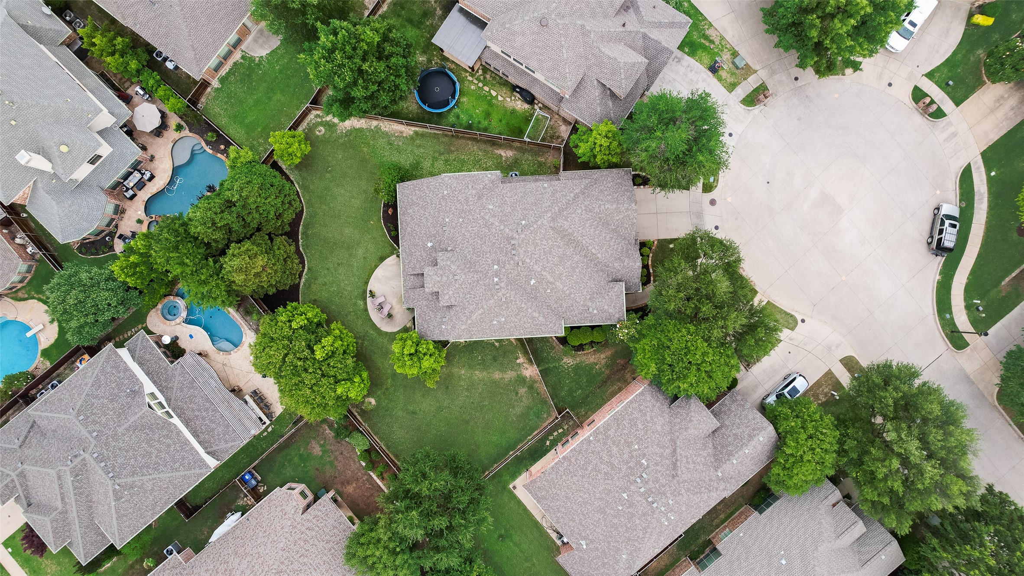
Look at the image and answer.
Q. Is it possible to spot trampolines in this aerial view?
Yes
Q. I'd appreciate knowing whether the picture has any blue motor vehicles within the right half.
No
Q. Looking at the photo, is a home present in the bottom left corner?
Yes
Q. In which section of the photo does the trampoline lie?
top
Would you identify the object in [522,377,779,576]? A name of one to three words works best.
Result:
house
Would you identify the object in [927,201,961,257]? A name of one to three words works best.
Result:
car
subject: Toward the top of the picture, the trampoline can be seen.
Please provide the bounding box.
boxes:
[412,62,460,113]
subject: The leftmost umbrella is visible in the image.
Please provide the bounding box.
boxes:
[133,103,163,132]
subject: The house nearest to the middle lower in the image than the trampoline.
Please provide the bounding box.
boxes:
[396,168,642,342]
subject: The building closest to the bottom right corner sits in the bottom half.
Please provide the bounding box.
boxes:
[674,475,904,576]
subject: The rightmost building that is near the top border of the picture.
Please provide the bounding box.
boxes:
[462,0,693,131]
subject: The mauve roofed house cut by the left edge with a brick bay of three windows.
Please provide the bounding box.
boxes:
[0,230,39,293]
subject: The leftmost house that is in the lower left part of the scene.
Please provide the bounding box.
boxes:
[0,329,246,565]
